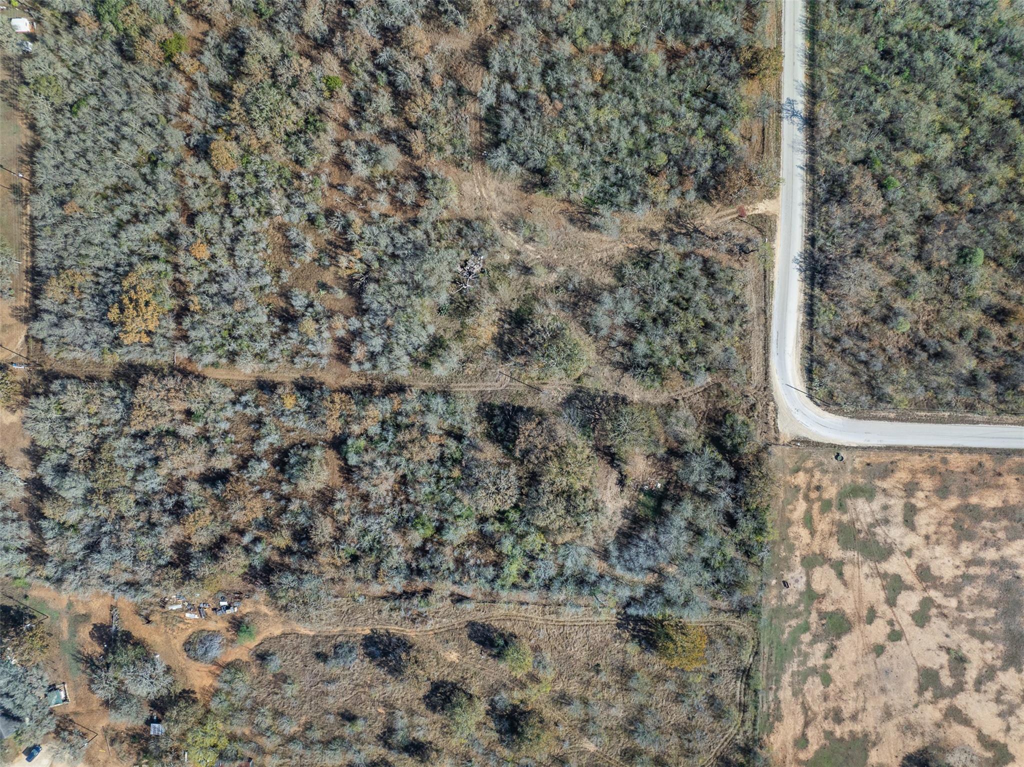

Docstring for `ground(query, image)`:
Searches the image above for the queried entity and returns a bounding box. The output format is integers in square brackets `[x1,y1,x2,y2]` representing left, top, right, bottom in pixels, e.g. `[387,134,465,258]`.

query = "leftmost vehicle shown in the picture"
[21,743,42,765]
